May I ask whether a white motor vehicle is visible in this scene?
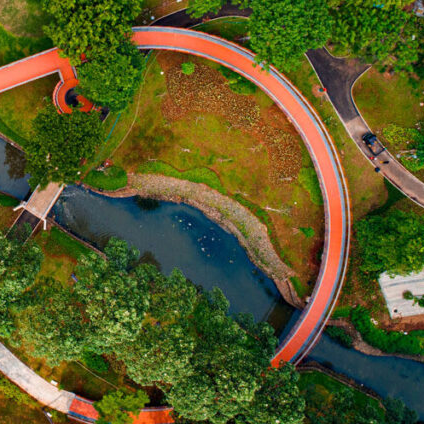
No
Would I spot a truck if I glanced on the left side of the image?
No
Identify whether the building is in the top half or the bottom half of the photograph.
bottom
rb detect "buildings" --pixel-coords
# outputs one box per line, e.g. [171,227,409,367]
[380,269,424,319]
